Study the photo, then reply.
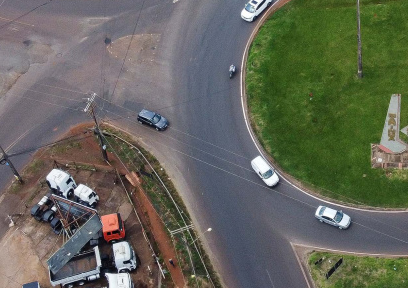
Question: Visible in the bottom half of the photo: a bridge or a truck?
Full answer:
The one visible in the bottom half of the photo is a truck.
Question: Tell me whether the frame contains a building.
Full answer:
No, there isn't any building down there.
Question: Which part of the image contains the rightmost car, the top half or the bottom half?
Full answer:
You can find the rightmost car in the bottom half.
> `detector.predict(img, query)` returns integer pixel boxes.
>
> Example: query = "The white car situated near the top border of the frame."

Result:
[242,0,271,20]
